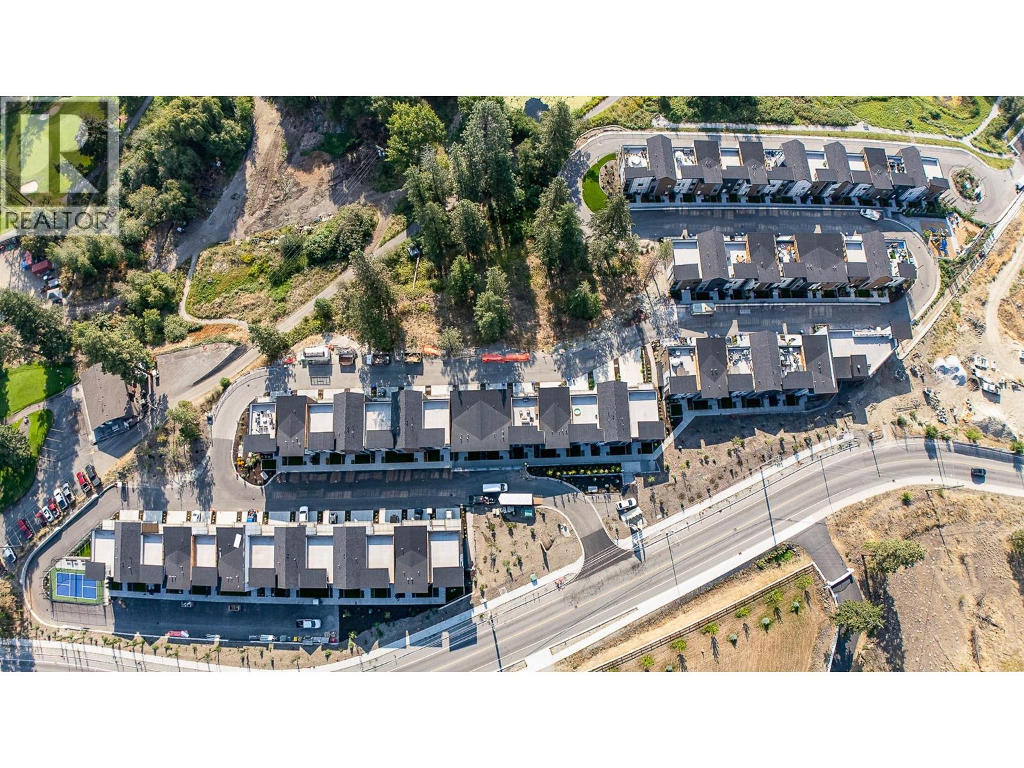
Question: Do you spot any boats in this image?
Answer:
No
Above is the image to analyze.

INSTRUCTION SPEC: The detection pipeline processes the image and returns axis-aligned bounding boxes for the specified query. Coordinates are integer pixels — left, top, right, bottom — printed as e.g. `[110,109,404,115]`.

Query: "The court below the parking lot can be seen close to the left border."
[50,568,104,604]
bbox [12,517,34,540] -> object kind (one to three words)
truck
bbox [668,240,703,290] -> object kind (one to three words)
house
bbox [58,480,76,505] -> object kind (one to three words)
vehicle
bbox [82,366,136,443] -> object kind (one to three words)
building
